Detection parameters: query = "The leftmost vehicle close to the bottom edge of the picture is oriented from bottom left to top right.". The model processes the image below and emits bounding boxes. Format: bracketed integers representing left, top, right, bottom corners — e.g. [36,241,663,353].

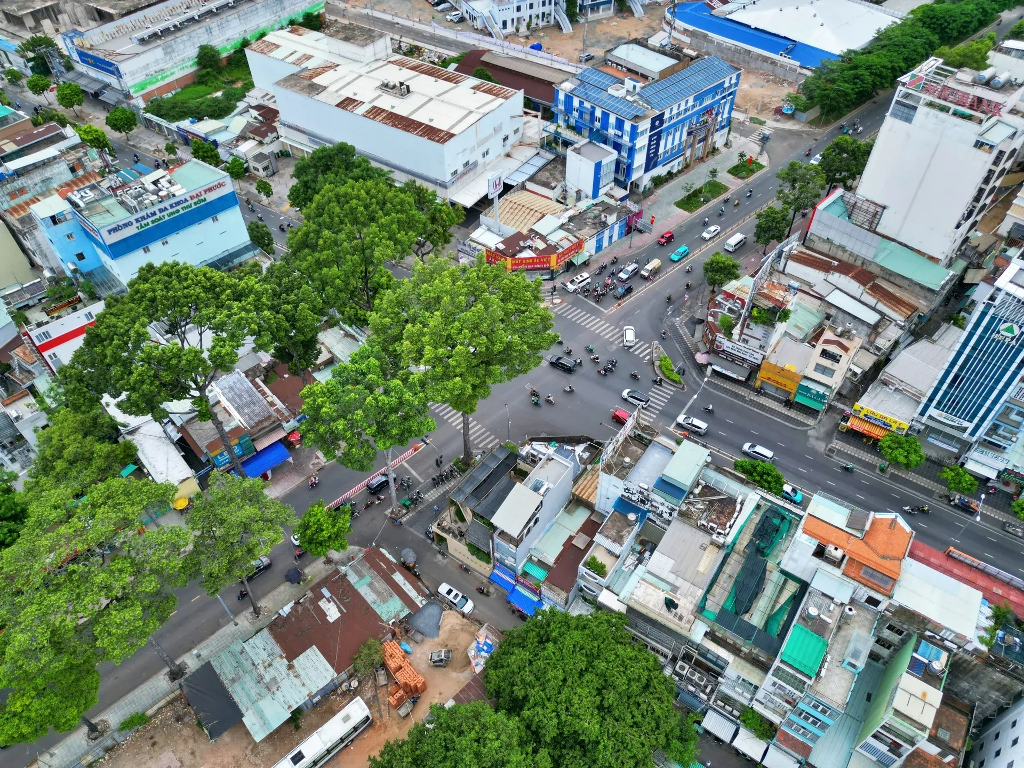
[263,696,376,768]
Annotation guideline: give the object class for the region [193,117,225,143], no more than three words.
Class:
house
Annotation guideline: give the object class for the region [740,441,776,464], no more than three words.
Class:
car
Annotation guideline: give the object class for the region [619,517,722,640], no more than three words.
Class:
building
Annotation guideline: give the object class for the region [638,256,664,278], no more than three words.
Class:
vehicle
